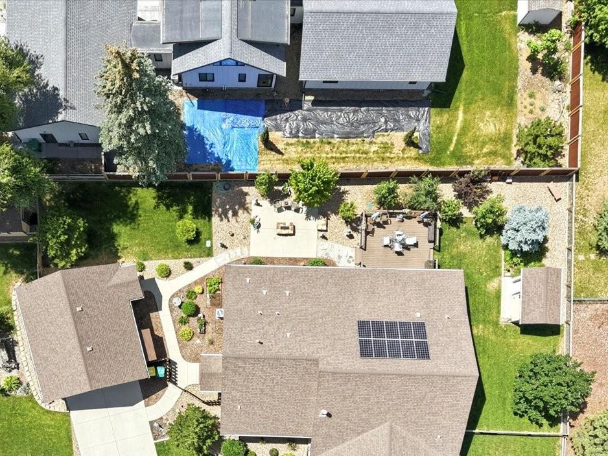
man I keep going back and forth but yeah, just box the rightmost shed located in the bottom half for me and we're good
[512,265,562,325]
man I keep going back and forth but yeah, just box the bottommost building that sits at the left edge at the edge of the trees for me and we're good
[14,261,151,404]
